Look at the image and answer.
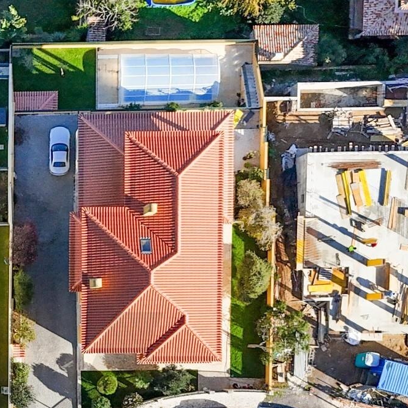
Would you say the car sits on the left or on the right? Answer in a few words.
left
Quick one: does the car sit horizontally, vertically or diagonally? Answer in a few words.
vertically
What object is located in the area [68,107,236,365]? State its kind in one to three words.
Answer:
house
